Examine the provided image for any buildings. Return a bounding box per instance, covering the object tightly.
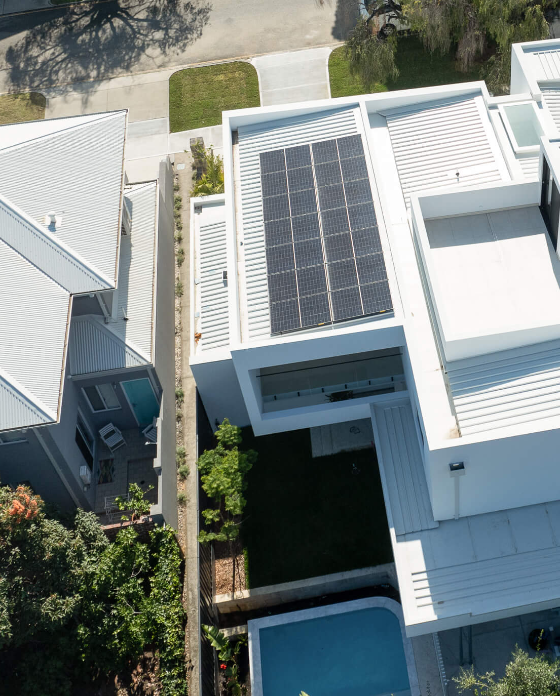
[0,105,156,511]
[185,39,560,639]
